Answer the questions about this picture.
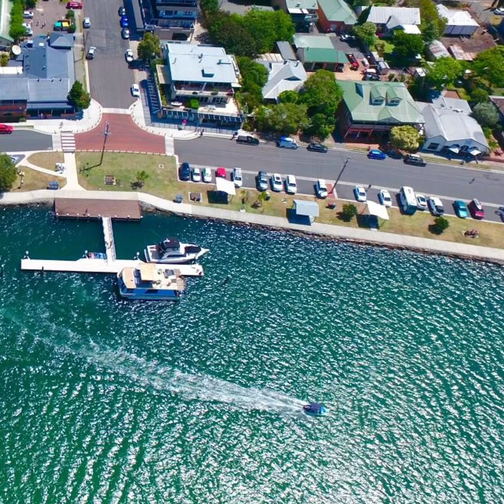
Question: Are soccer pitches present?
No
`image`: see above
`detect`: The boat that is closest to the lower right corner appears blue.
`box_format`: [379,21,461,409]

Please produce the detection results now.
[303,402,328,414]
